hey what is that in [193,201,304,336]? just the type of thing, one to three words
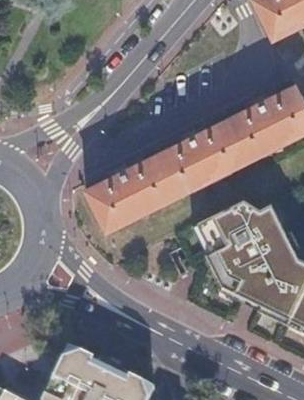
building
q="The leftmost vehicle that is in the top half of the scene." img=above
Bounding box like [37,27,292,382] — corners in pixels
[105,52,123,72]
